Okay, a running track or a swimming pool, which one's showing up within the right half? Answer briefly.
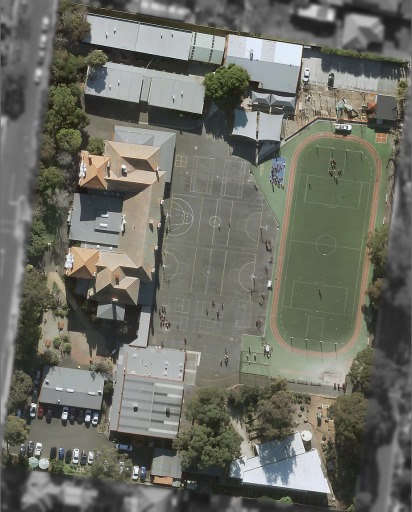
running track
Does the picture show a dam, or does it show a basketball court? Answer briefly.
basketball court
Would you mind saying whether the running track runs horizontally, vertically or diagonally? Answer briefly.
vertically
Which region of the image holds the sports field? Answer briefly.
right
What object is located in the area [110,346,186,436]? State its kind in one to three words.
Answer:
building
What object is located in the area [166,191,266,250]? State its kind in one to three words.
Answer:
basketball court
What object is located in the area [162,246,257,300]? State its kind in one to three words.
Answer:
basketball court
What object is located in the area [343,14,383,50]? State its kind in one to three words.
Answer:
house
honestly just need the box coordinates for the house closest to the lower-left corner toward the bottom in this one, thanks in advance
[22,478,56,512]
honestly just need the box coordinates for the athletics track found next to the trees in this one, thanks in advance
[274,134,378,354]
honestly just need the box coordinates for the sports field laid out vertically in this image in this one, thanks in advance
[278,138,374,350]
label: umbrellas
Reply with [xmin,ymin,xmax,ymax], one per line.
[28,458,38,469]
[38,458,50,470]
